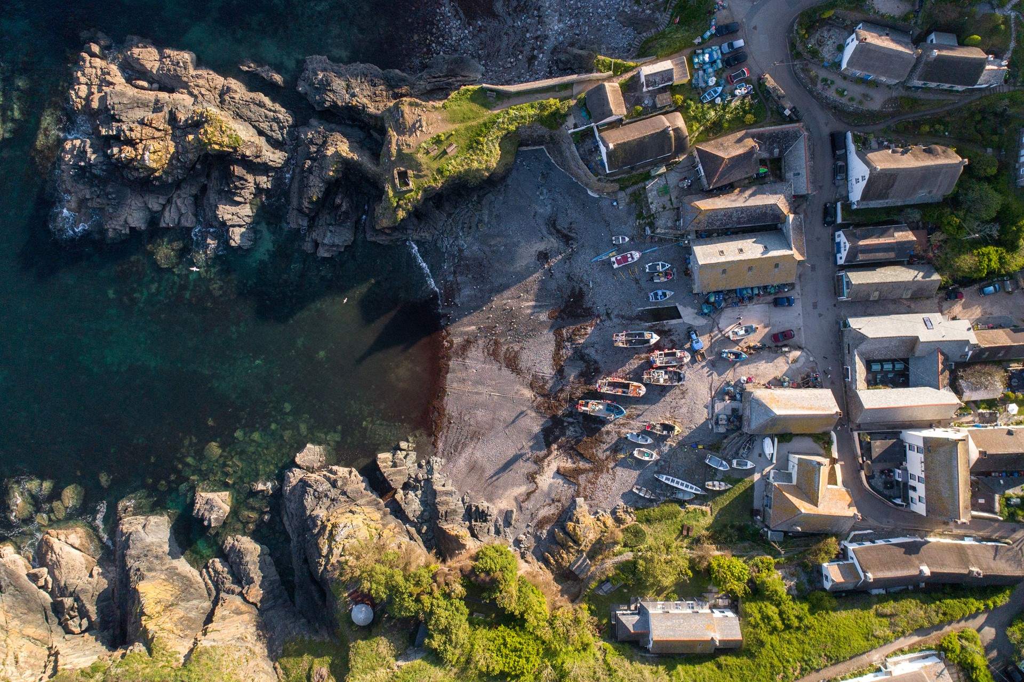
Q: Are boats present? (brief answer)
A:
Yes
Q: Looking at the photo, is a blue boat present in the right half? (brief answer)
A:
Yes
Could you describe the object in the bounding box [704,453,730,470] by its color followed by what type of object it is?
blue boat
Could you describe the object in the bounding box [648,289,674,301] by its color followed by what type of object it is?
blue boat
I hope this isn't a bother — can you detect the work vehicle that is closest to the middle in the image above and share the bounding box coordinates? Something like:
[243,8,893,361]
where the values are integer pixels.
[686,327,707,350]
